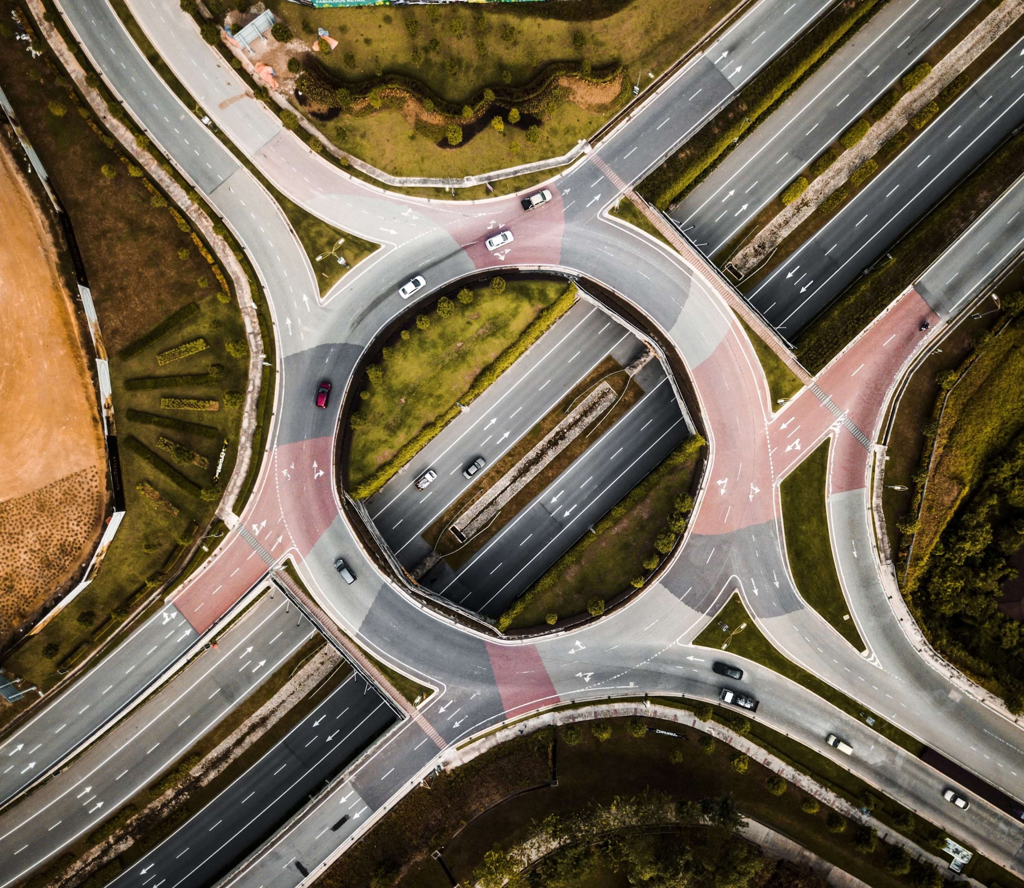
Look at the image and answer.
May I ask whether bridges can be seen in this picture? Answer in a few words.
Yes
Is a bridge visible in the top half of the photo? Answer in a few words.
Yes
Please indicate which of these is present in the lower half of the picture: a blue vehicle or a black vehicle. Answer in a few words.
black vehicle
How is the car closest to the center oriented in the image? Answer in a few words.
diagonally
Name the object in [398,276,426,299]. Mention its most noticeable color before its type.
white car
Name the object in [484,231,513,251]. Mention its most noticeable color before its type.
white car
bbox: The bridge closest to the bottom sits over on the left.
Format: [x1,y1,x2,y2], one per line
[269,489,504,723]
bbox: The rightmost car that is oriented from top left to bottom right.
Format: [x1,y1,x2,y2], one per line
[944,791,970,812]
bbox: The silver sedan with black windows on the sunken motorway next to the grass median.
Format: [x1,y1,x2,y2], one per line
[462,457,487,480]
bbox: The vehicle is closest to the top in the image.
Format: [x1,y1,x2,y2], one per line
[520,190,553,211]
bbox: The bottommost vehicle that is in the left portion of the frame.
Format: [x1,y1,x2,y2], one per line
[334,559,357,586]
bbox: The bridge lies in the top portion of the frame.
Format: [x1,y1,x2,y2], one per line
[570,182,820,434]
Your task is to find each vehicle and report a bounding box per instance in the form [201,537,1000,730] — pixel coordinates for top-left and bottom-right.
[412,468,440,494]
[719,688,760,714]
[520,190,553,211]
[398,276,426,299]
[484,231,513,251]
[462,457,487,480]
[713,662,743,681]
[316,382,331,409]
[944,791,970,812]
[334,559,357,586]
[826,735,855,757]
